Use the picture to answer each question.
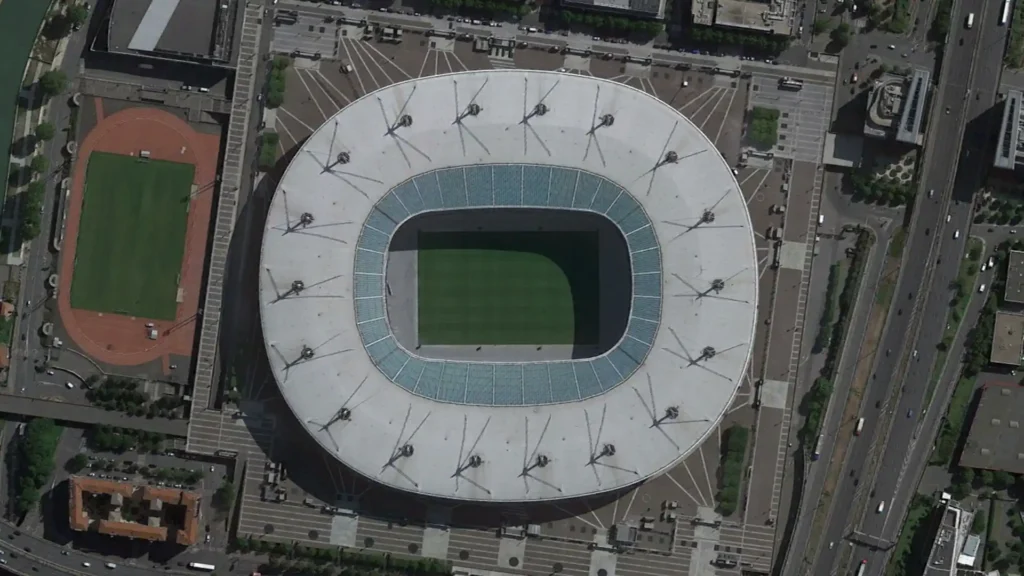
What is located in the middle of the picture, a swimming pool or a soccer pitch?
soccer pitch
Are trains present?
No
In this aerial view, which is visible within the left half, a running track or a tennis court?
running track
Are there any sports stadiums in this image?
Yes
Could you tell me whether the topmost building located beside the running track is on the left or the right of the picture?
left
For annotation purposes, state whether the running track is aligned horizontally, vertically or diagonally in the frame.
vertically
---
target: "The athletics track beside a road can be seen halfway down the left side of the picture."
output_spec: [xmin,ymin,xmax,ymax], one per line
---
[61,97,220,376]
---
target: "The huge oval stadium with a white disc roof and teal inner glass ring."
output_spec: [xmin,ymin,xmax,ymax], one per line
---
[261,70,757,500]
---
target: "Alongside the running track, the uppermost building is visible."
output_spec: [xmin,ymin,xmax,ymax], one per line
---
[91,0,246,71]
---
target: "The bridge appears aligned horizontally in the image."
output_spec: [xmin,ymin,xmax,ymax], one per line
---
[0,395,187,439]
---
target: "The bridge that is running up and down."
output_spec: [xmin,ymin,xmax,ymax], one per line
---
[814,0,1014,576]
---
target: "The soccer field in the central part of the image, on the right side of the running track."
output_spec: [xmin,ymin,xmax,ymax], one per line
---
[417,231,600,348]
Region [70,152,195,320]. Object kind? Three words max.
soccer field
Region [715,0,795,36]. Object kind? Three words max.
building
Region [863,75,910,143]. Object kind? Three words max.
building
